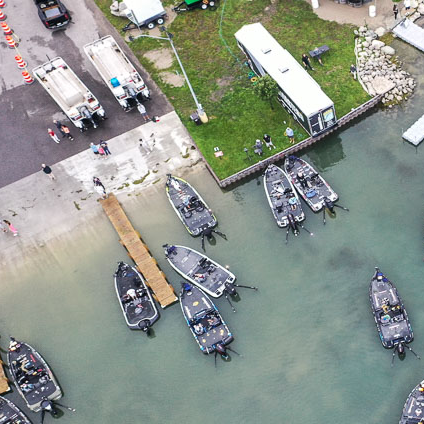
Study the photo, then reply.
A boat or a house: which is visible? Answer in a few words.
boat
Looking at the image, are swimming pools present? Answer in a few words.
No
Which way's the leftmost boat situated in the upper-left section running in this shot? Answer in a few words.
at an angle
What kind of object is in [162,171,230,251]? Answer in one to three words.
boat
